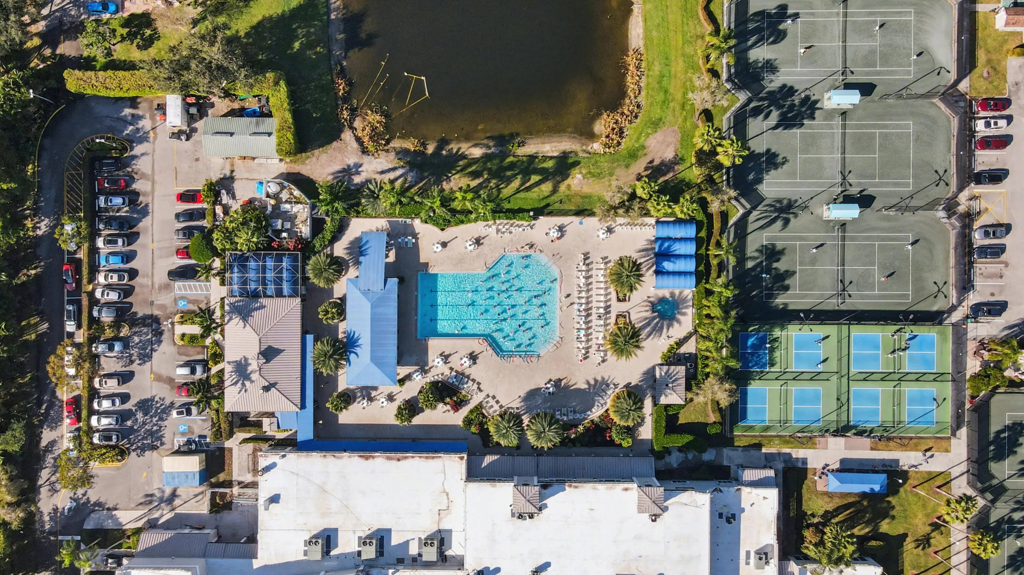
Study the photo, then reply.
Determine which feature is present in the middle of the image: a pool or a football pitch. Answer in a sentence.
What appears in the middle of the image is a pool.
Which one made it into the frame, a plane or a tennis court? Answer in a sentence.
Visible in the photo is a tennis court.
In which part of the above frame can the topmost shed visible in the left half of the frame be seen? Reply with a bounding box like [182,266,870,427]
[202,116,279,158]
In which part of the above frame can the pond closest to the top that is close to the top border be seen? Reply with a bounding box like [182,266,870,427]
[346,0,629,139]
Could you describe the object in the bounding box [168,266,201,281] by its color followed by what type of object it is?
black car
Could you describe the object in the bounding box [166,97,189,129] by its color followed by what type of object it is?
white trailer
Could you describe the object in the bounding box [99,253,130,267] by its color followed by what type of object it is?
blue car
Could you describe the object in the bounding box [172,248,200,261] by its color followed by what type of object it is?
red vehicle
